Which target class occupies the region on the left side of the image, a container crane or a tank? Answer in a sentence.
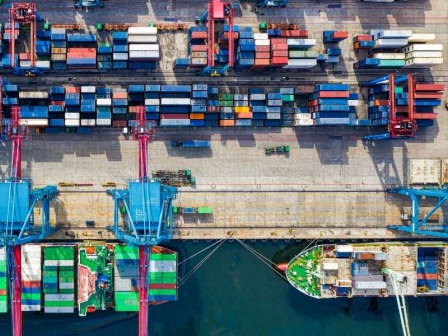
Looking on the left side of the image, you will find a container crane.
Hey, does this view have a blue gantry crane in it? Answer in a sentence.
Yes, a blue gantry crane appears in the view.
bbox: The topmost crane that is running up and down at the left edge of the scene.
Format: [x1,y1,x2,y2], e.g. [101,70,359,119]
[10,3,45,80]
